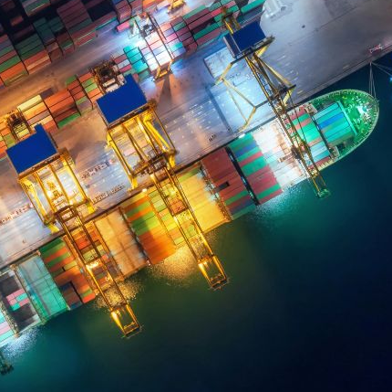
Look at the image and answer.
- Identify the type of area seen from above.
port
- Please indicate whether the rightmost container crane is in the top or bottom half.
top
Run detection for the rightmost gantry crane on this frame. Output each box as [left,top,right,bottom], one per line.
[214,8,334,200]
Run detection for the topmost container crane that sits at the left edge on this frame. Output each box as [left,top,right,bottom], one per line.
[6,112,144,338]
